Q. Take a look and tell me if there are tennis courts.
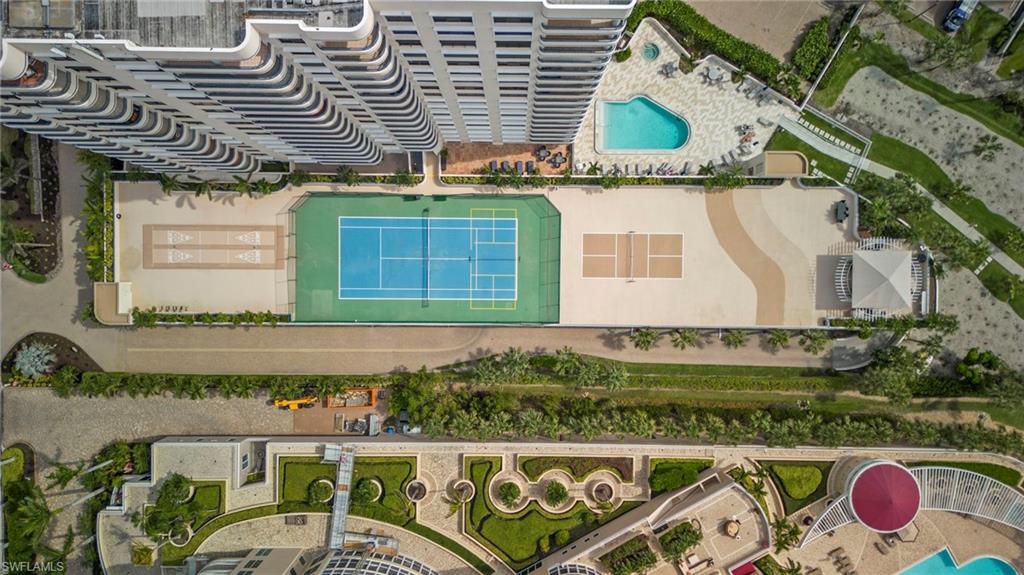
Yes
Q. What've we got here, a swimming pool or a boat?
swimming pool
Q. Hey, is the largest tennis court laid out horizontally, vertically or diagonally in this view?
horizontally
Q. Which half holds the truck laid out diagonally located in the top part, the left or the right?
right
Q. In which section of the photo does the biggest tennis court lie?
center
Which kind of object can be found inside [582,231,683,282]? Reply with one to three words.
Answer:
sports court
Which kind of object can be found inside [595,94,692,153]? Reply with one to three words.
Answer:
swimming pool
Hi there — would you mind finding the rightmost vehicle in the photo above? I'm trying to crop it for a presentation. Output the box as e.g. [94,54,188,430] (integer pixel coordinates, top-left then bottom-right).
[941,0,984,34]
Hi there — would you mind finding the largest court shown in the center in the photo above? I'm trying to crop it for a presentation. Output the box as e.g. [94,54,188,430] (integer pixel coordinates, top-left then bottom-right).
[296,192,560,324]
